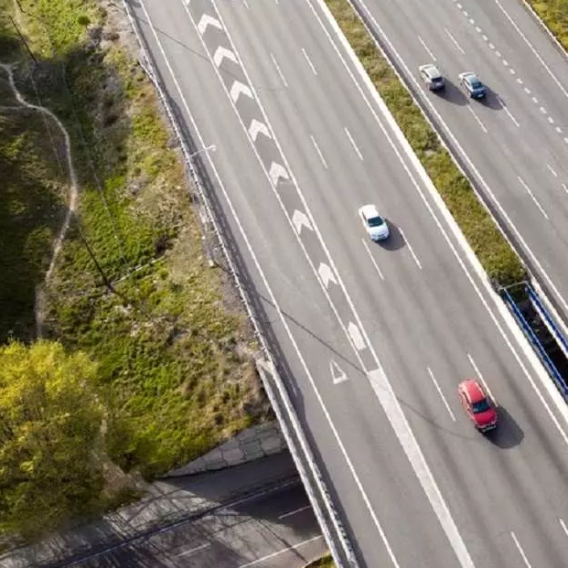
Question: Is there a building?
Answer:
No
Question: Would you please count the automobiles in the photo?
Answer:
4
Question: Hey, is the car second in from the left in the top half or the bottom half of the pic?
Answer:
top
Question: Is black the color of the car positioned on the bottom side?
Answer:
No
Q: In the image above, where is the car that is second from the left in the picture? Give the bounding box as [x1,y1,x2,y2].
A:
[419,65,446,93]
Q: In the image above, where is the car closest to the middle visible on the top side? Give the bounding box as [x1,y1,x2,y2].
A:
[358,206,389,240]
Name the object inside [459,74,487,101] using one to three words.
car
